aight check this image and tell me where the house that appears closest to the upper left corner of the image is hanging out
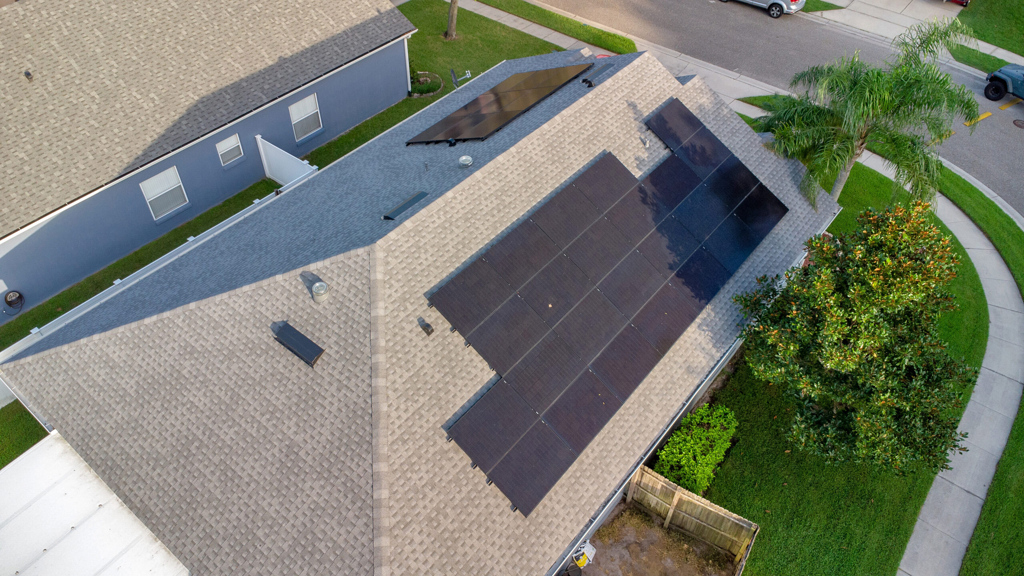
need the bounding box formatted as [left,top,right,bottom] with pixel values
[0,0,424,323]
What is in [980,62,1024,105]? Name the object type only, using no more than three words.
car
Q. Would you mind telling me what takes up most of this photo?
buildings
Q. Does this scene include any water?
No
